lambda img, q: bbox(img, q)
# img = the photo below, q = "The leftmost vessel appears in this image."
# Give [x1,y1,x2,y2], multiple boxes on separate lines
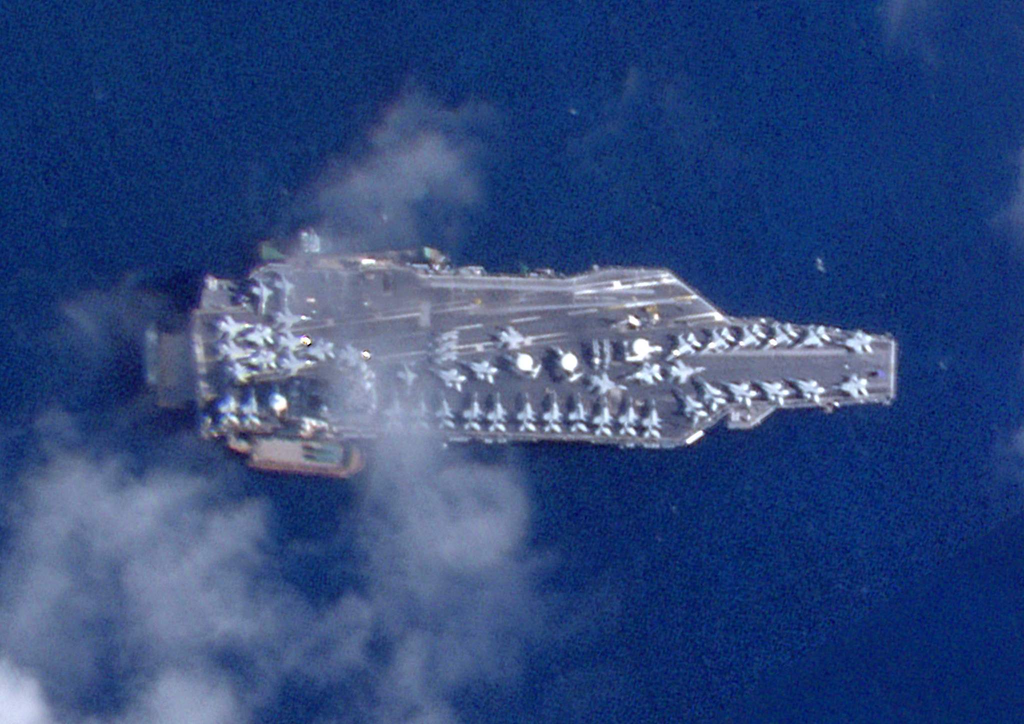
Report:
[147,333,196,405]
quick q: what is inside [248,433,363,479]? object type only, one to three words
ship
